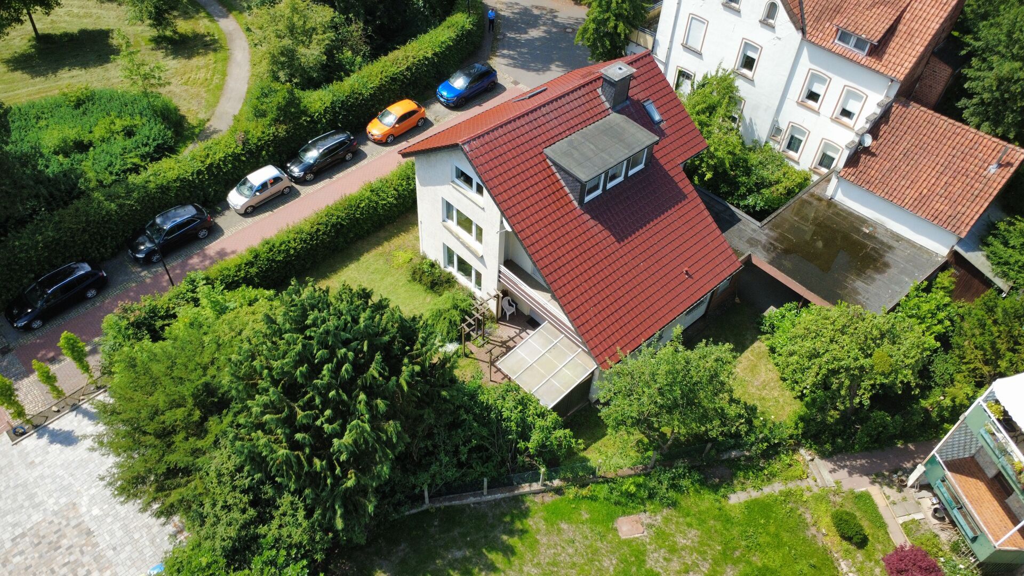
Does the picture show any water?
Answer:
No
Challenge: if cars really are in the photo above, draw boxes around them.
[366,99,428,143]
[437,61,498,106]
[225,162,293,212]
[121,201,215,264]
[0,254,106,330]
[280,126,358,182]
